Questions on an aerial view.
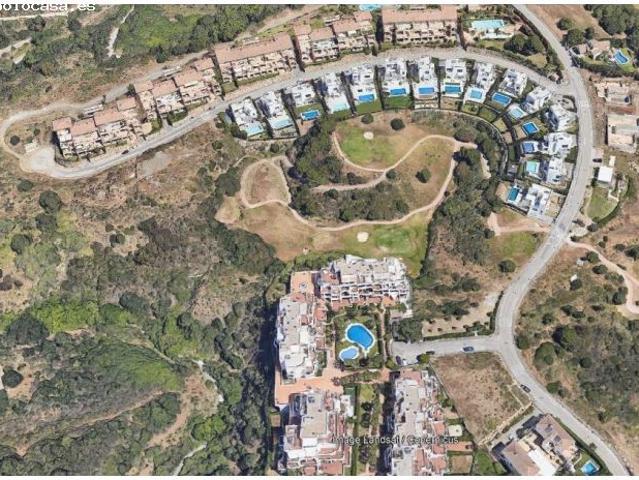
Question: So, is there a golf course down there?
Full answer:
Yes, you can see a golf course in this photo.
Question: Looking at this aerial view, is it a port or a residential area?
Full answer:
This image shows a residential area.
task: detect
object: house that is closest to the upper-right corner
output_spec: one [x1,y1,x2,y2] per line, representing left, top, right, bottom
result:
[575,39,614,61]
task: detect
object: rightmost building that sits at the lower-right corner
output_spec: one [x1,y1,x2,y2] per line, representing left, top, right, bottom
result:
[499,414,577,480]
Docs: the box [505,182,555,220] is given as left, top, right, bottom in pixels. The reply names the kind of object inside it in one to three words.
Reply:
house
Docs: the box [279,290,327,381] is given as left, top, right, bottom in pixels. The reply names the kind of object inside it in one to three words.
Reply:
building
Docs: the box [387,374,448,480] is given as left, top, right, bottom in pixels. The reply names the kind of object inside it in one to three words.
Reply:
building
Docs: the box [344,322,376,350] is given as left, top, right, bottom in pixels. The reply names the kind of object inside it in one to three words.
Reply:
swimming pool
